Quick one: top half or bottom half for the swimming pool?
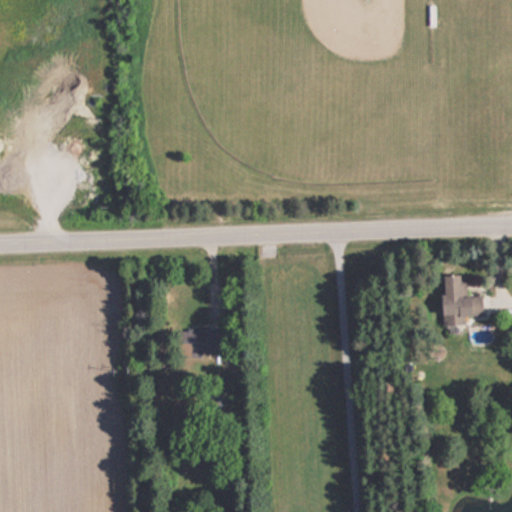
bottom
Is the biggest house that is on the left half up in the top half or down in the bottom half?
bottom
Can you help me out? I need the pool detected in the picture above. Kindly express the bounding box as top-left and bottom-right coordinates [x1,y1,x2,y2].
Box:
[470,327,497,346]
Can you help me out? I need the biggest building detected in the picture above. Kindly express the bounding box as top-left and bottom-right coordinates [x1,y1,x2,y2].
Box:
[444,274,484,328]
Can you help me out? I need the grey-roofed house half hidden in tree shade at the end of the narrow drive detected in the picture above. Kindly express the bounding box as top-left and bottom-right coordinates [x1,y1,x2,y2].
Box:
[184,329,218,358]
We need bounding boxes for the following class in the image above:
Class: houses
[444,274,484,328]
[184,329,218,358]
